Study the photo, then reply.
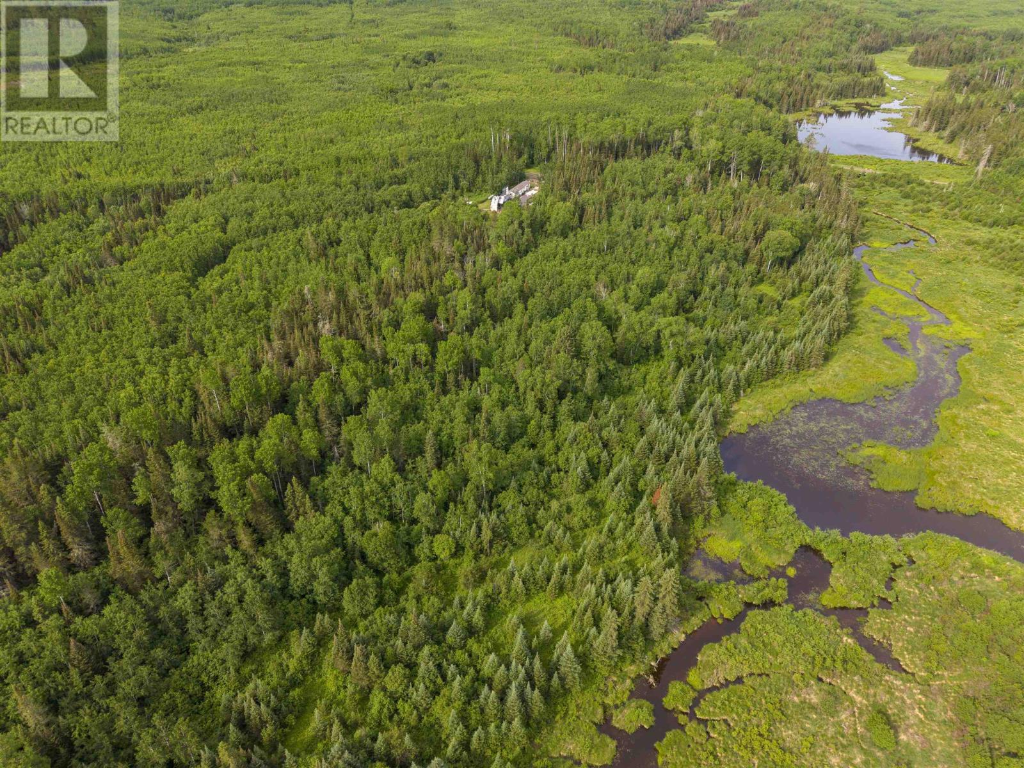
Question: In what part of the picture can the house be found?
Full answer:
You can find the house in the top area of the picture.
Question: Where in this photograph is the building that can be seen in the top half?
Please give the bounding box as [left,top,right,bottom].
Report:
[497,177,537,210]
